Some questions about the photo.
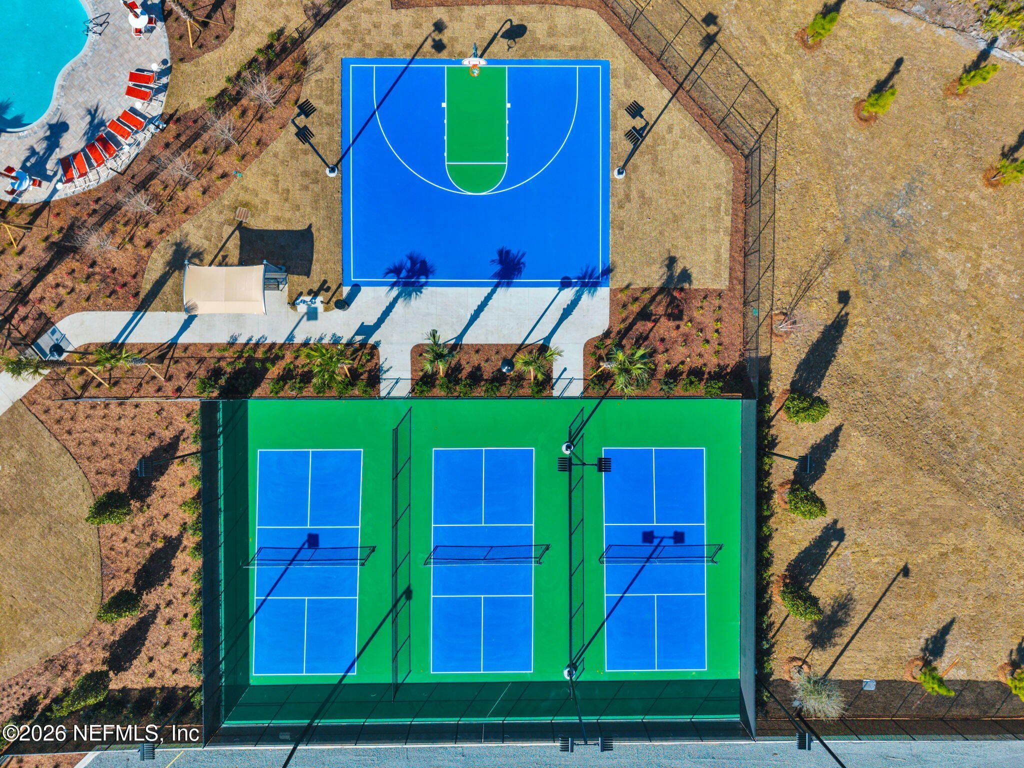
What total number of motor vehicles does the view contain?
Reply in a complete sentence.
No motor vehicles are visible.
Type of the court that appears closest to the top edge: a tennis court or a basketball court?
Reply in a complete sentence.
The court that appears closest to the top edge can be classified as a basketball court.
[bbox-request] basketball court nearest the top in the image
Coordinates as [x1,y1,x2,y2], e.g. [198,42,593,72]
[342,57,610,287]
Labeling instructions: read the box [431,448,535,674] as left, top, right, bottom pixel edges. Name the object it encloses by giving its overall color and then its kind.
blue sports court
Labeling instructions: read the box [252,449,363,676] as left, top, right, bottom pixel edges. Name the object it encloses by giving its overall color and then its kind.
blue sports court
